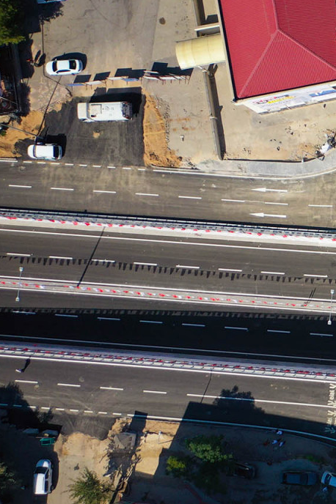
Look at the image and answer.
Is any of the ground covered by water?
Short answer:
No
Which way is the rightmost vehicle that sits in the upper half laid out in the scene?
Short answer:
from left to right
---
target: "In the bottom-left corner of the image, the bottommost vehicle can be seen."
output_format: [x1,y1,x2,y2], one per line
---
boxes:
[32,458,54,495]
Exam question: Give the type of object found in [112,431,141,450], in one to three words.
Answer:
shed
